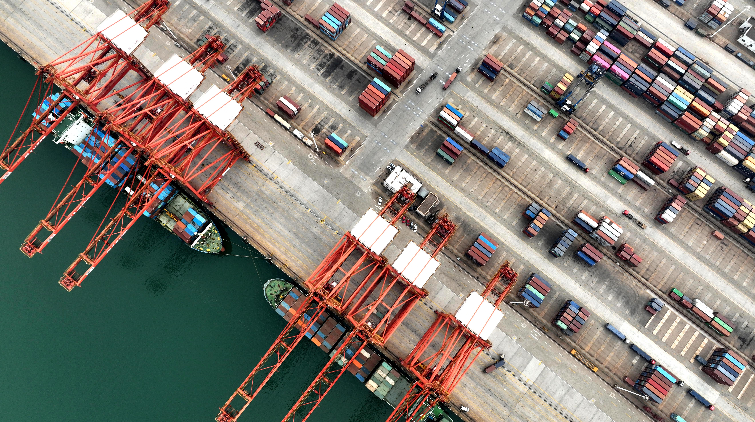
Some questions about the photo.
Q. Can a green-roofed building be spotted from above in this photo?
No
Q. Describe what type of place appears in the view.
port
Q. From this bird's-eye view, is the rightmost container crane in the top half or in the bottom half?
top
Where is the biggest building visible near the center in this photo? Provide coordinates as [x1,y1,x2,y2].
[384,167,420,194]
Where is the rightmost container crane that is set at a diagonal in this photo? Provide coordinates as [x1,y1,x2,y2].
[555,60,607,115]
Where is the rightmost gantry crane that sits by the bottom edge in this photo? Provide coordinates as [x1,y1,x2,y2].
[383,263,521,422]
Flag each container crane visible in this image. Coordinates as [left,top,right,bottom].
[278,215,458,422]
[0,0,172,184]
[60,65,265,292]
[383,263,521,422]
[19,33,226,257]
[555,60,607,115]
[215,184,417,422]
